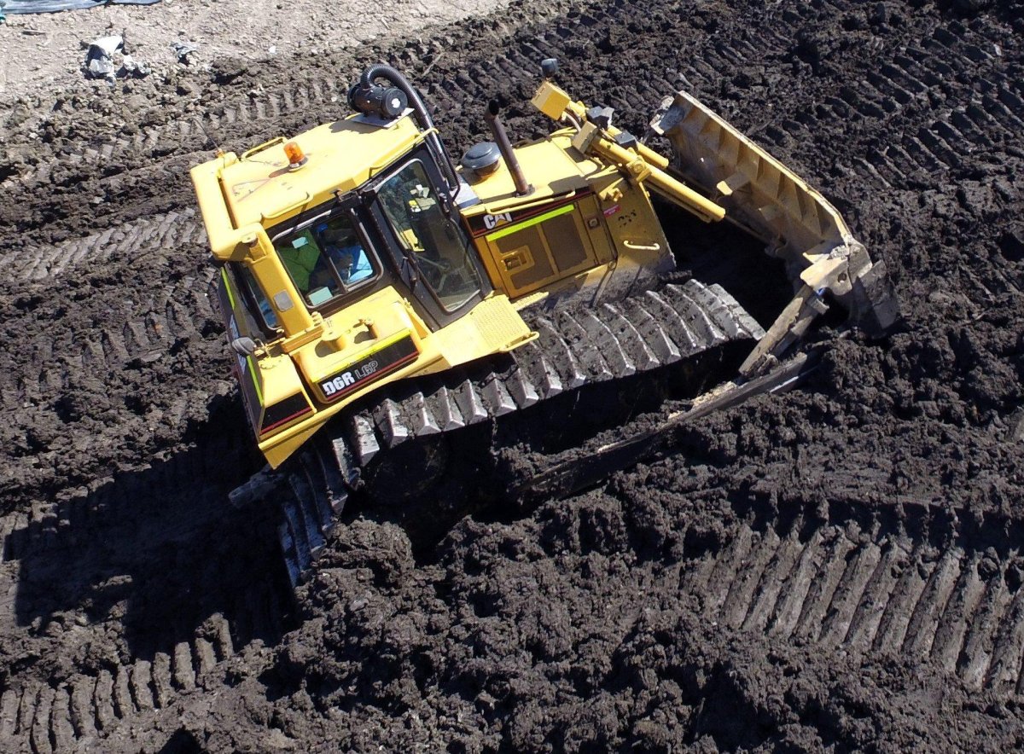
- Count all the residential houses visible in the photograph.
zero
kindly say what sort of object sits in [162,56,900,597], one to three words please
work vehicle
